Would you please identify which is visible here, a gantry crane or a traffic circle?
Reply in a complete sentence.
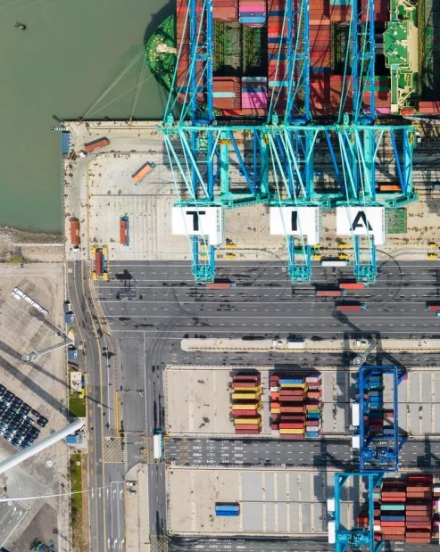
Visible in the photo is a gantry crane.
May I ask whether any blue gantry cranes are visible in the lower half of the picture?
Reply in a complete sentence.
Yes, a blue gantry crane shows up in the lower half of the picture.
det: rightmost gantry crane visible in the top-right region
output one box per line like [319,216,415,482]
[332,0,421,281]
